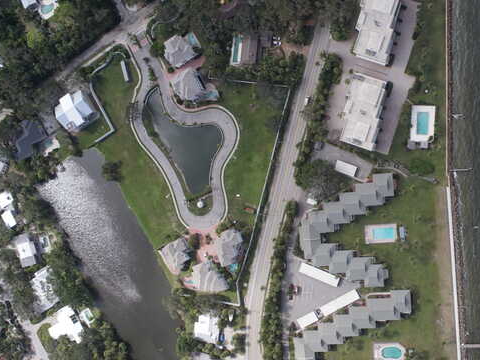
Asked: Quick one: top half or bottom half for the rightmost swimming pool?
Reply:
top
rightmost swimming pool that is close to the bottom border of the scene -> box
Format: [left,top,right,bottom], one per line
[373,342,407,360]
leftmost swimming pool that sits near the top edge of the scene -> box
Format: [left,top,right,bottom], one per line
[38,0,58,18]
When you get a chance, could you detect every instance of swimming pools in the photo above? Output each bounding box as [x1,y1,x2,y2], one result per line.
[366,223,397,244]
[204,82,219,100]
[40,235,52,253]
[411,105,436,143]
[182,276,195,289]
[231,36,241,64]
[42,139,59,151]
[227,264,240,272]
[80,309,95,324]
[373,342,407,360]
